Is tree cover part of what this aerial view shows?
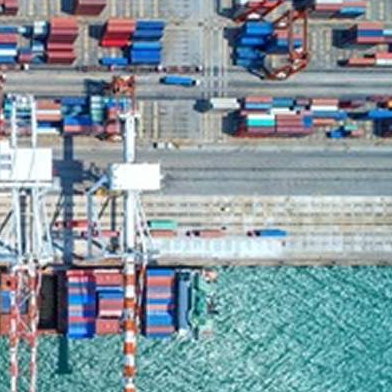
No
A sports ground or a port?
port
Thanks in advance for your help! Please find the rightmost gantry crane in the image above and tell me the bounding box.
[265,4,313,79]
